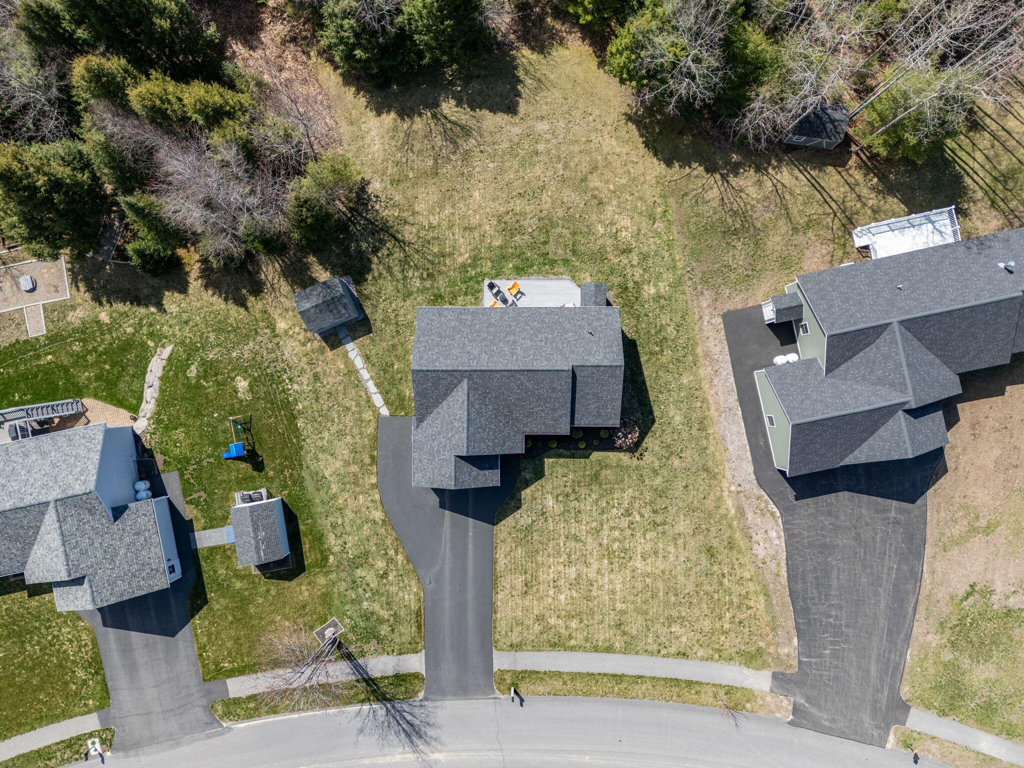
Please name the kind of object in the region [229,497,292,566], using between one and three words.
shed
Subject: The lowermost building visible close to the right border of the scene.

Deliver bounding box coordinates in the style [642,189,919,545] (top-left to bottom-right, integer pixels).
[755,228,1024,478]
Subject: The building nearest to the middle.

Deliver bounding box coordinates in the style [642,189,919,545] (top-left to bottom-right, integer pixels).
[412,283,624,489]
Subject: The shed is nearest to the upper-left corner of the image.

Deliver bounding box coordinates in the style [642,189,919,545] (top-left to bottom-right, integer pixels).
[294,277,358,332]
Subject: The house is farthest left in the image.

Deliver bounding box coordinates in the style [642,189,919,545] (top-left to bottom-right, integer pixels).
[0,421,185,611]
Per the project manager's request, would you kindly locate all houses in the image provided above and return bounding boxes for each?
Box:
[0,421,185,611]
[755,228,1024,478]
[412,283,624,489]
